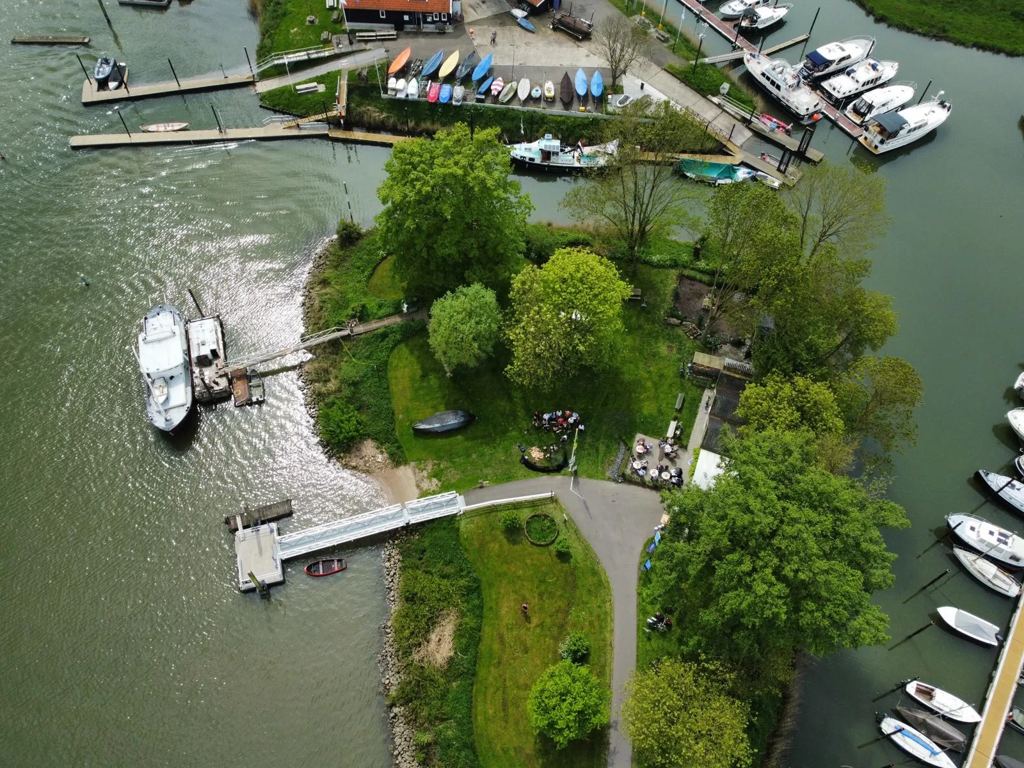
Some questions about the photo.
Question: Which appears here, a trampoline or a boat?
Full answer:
There is a boat in the scene.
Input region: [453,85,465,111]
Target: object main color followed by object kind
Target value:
white boat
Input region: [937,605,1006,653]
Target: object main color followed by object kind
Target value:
white boat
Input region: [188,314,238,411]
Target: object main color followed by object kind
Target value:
white ship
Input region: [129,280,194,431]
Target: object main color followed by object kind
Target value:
white vessel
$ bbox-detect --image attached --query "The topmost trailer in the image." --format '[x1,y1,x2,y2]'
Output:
[549,2,595,44]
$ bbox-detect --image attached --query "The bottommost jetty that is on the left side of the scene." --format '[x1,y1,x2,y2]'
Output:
[235,511,285,594]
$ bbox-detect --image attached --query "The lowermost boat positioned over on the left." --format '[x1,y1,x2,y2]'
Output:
[304,554,348,578]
